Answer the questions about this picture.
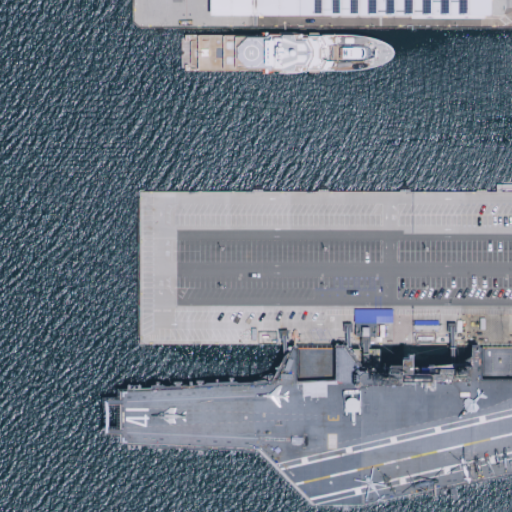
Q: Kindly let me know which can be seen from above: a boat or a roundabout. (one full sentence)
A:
Visible in the photo is a boat.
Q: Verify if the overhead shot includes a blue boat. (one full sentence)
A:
No, I can't see a single blue boat in this photo.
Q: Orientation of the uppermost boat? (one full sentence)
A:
The uppermost boat is oriented from left to right.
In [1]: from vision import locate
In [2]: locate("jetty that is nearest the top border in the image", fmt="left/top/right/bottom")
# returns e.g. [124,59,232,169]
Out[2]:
[134,0,512,28]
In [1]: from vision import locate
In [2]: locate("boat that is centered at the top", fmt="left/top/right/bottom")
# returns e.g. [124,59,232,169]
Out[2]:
[182,32,394,74]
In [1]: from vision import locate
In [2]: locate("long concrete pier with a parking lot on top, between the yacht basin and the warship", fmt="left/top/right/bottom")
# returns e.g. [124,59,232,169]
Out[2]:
[140,190,512,346]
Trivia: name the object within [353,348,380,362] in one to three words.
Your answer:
ship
